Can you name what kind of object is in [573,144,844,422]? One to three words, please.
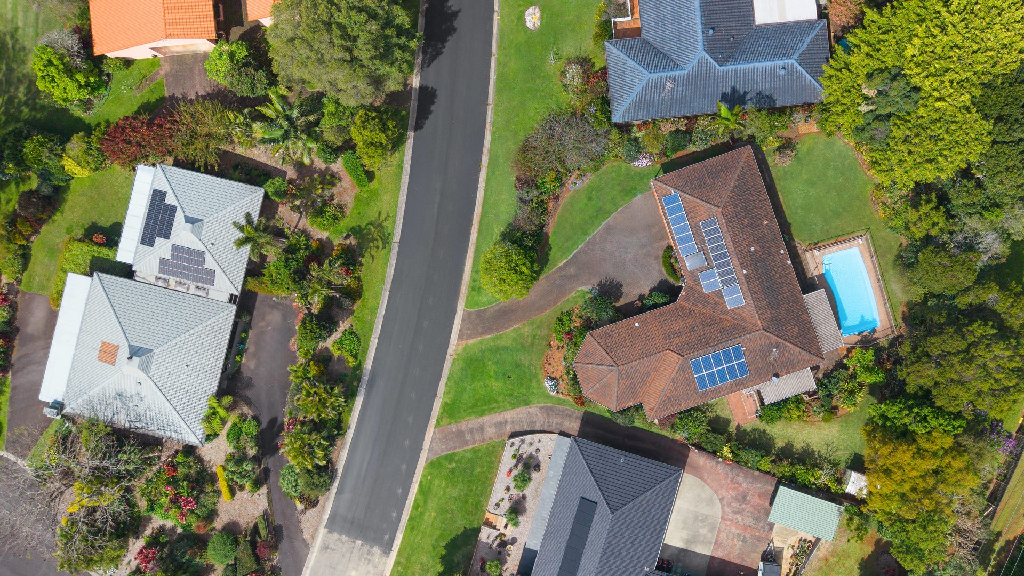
house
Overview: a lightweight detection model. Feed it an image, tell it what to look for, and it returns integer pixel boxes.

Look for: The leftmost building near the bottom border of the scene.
[515,433,702,576]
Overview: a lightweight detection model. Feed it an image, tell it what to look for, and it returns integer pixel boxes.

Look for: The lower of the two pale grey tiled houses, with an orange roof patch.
[39,271,241,447]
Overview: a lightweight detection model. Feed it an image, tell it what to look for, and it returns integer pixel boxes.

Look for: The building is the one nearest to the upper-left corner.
[92,0,218,59]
